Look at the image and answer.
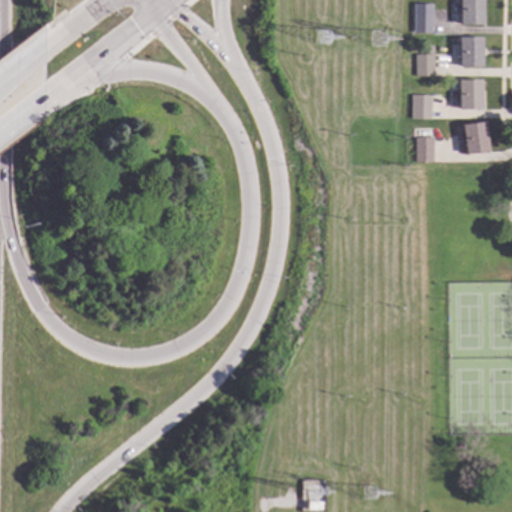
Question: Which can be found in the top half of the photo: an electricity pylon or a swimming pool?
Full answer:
Visible in the top half of the photo is an electricity pylon.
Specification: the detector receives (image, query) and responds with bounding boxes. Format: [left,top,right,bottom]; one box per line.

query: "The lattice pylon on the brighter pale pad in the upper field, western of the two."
[317,29,351,46]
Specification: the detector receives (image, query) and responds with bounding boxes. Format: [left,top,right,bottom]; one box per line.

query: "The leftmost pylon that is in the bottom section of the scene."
[308,486,342,503]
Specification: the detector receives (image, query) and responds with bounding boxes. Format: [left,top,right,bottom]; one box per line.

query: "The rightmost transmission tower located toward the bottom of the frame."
[363,484,398,501]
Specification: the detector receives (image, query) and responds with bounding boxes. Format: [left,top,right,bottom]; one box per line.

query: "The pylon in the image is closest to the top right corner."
[372,30,406,46]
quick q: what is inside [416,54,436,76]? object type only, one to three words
building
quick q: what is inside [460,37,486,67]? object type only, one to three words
house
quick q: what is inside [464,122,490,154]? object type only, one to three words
house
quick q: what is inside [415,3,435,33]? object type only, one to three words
building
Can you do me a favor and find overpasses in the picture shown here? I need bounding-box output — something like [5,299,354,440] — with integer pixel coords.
[0,24,48,154]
